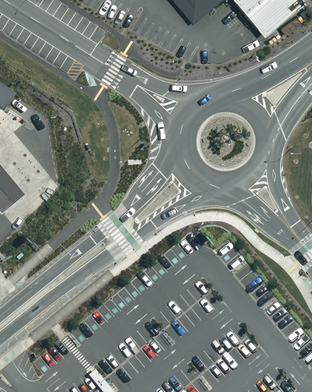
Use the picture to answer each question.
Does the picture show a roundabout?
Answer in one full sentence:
Yes, the photo shows a roundabout.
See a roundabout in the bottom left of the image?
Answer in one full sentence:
No, I see no roundabout in the bottom left of the image.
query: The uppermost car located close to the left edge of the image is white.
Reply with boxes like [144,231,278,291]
[12,100,27,112]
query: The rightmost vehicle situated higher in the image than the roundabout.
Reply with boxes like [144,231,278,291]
[261,62,278,74]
